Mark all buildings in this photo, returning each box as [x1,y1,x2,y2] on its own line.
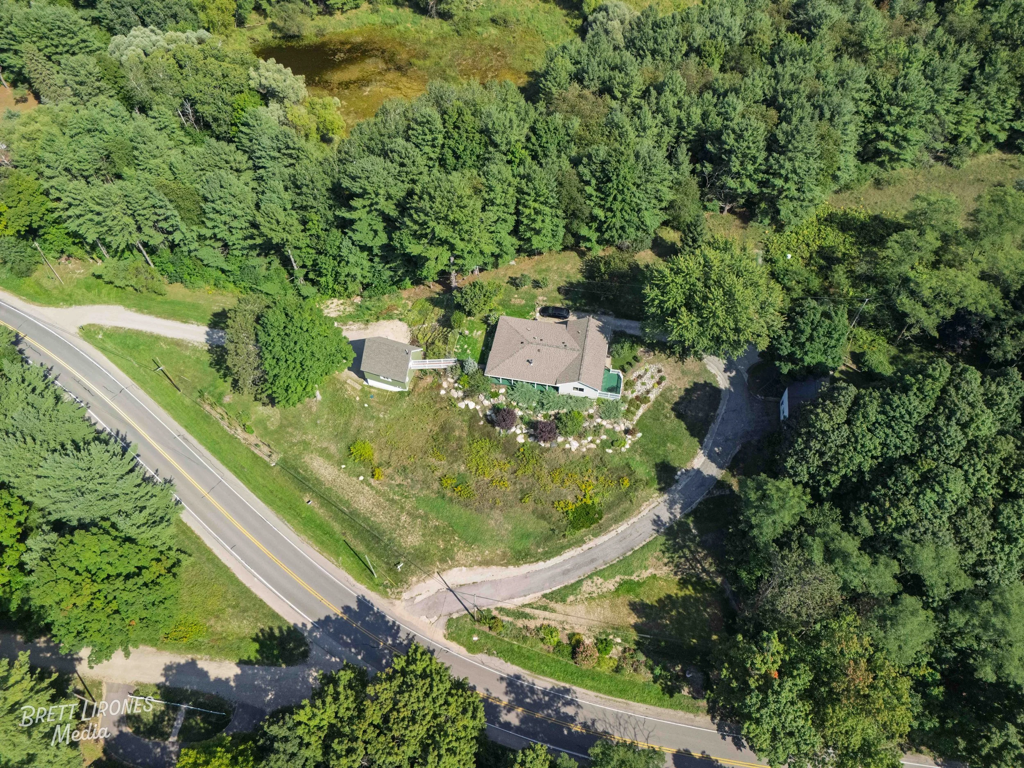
[484,316,623,400]
[780,386,843,446]
[360,336,424,390]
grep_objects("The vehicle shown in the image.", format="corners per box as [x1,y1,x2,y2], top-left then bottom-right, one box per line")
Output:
[540,306,569,320]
